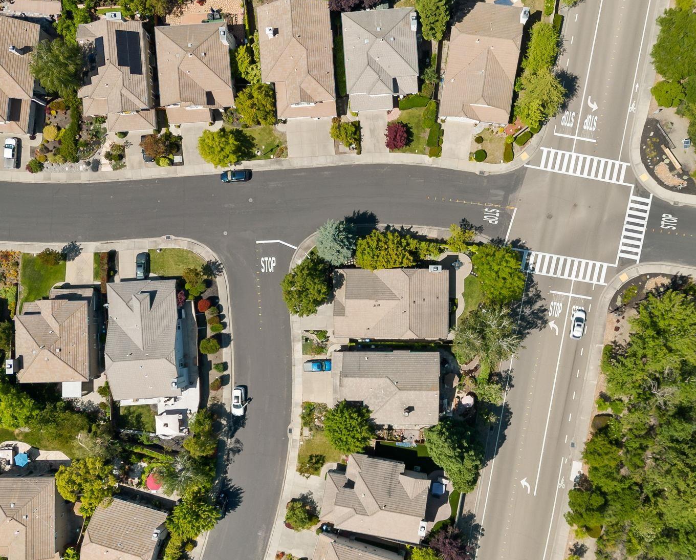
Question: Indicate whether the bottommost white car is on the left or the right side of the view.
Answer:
left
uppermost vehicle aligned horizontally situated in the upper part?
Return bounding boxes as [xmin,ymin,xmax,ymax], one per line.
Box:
[221,169,254,184]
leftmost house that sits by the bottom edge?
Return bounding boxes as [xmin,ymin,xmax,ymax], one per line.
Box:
[0,472,69,560]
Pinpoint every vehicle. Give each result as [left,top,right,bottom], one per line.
[302,358,332,374]
[231,384,252,416]
[140,134,157,166]
[3,136,21,173]
[221,169,254,184]
[134,250,151,281]
[569,308,588,341]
